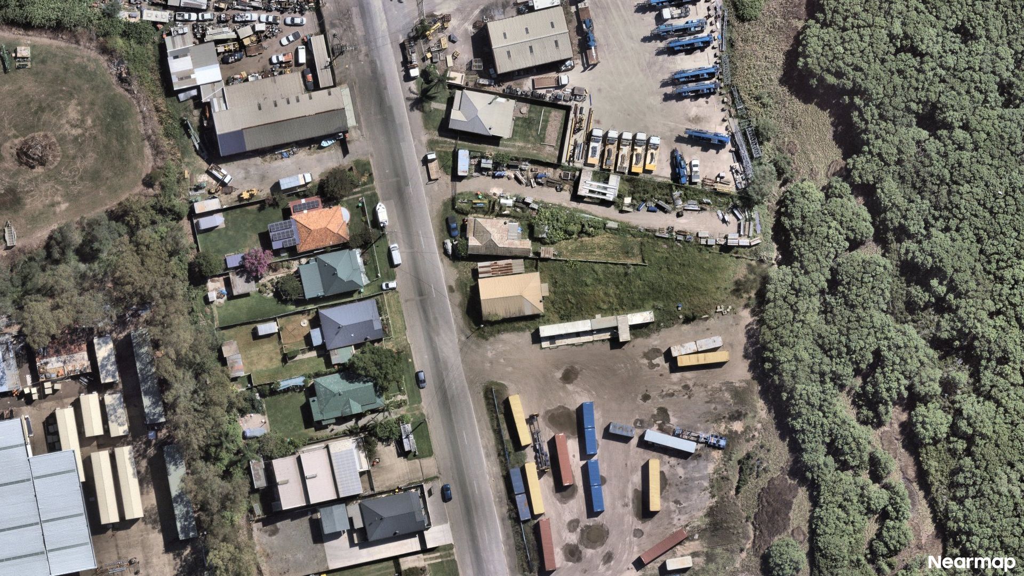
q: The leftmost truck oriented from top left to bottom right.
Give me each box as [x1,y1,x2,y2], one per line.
[206,163,234,186]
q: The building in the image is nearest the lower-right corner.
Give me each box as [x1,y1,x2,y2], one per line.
[539,314,631,349]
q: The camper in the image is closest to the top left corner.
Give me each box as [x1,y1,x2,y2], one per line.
[143,10,174,22]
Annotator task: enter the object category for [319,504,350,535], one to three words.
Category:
building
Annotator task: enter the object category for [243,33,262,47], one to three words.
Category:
work vehicle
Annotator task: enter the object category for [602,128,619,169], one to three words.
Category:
vehicle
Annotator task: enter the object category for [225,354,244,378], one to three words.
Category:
shed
